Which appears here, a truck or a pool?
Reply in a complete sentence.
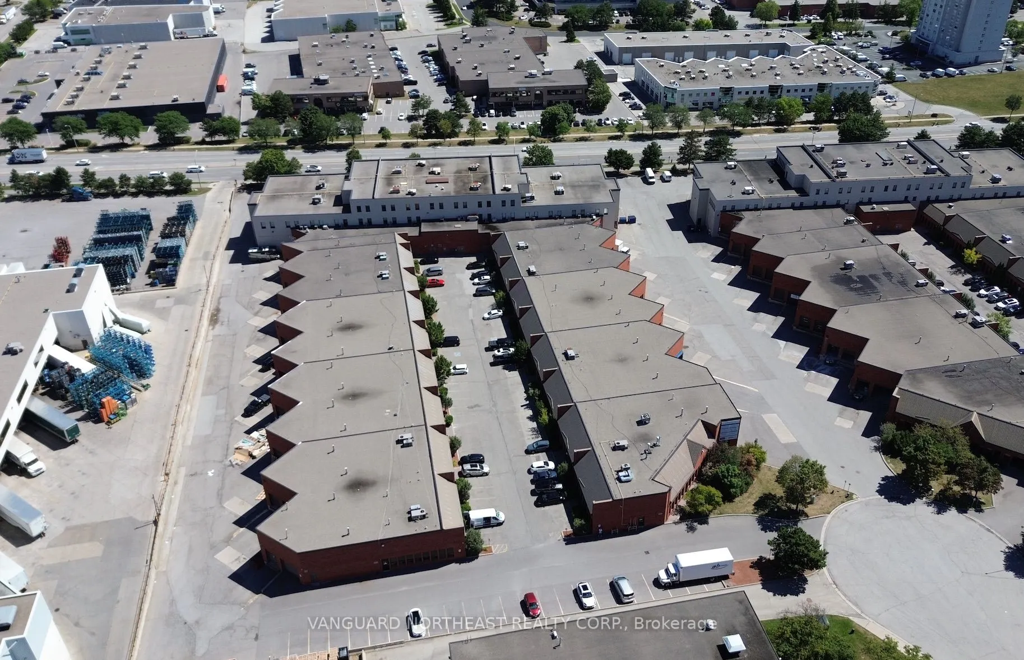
Visible in the photo is a truck.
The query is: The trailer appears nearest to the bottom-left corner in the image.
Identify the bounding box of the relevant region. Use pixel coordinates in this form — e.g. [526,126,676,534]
[0,551,29,593]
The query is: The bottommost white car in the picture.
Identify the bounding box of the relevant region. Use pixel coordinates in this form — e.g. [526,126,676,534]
[407,606,427,637]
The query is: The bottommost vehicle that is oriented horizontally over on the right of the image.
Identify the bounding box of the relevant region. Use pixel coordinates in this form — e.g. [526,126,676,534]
[658,546,733,586]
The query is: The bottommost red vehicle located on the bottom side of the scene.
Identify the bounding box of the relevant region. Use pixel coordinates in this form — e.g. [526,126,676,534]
[523,591,542,619]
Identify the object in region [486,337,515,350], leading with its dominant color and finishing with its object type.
black vehicle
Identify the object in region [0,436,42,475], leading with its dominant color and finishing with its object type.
white truck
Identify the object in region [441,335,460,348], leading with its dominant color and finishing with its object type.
black vehicle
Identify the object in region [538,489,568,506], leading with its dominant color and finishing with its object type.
black car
